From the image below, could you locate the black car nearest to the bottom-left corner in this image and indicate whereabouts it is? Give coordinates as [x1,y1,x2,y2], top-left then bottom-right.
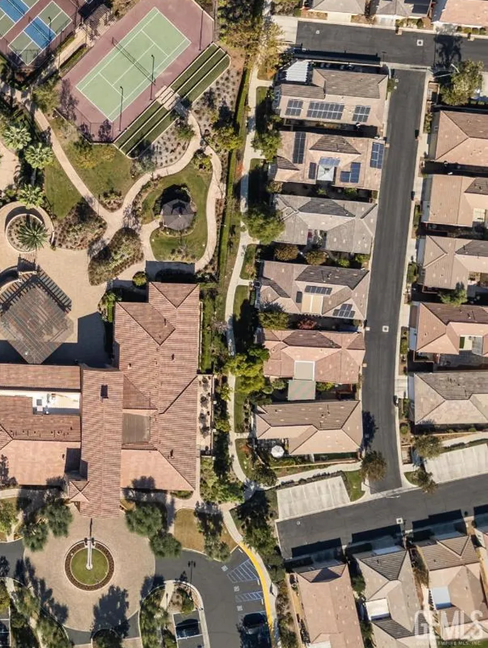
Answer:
[178,623,201,640]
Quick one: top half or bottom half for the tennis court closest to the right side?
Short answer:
top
